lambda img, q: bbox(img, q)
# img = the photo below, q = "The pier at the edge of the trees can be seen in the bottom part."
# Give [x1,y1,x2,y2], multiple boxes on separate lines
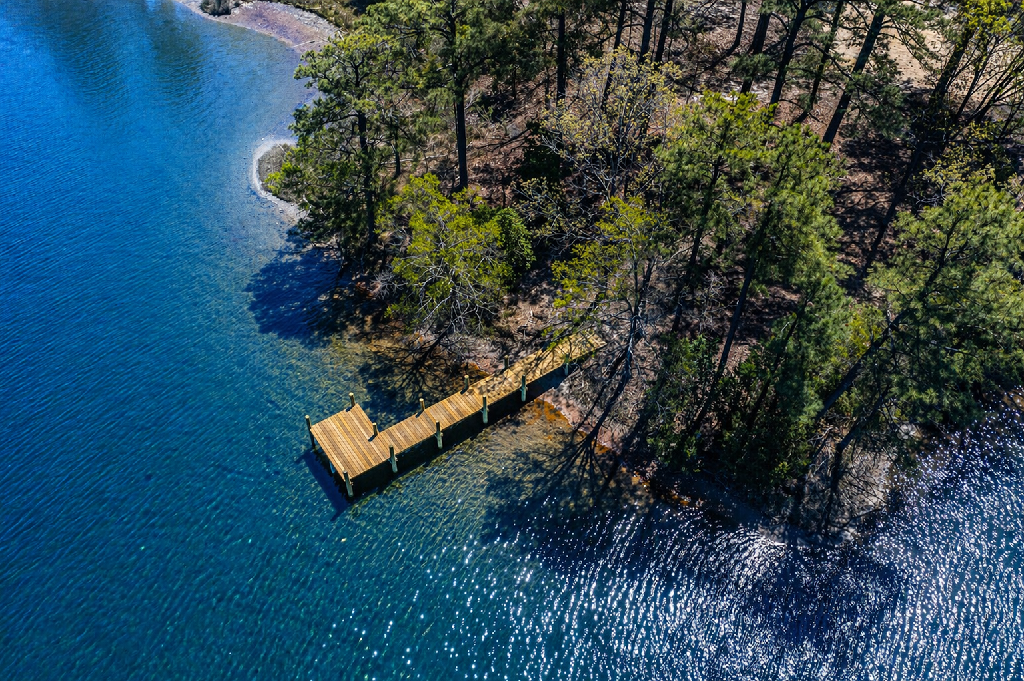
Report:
[311,328,607,502]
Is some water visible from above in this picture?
Yes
